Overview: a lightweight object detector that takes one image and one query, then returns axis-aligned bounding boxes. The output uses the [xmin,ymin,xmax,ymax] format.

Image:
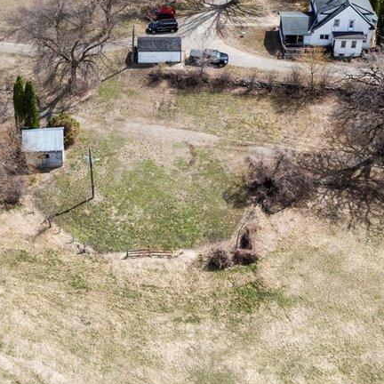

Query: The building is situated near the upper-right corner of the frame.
[278,0,381,65]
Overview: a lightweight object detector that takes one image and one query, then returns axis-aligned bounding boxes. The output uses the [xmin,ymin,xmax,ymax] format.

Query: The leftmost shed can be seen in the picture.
[23,125,67,170]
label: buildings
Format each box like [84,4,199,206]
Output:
[135,34,182,63]
[23,125,67,170]
[278,0,381,65]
